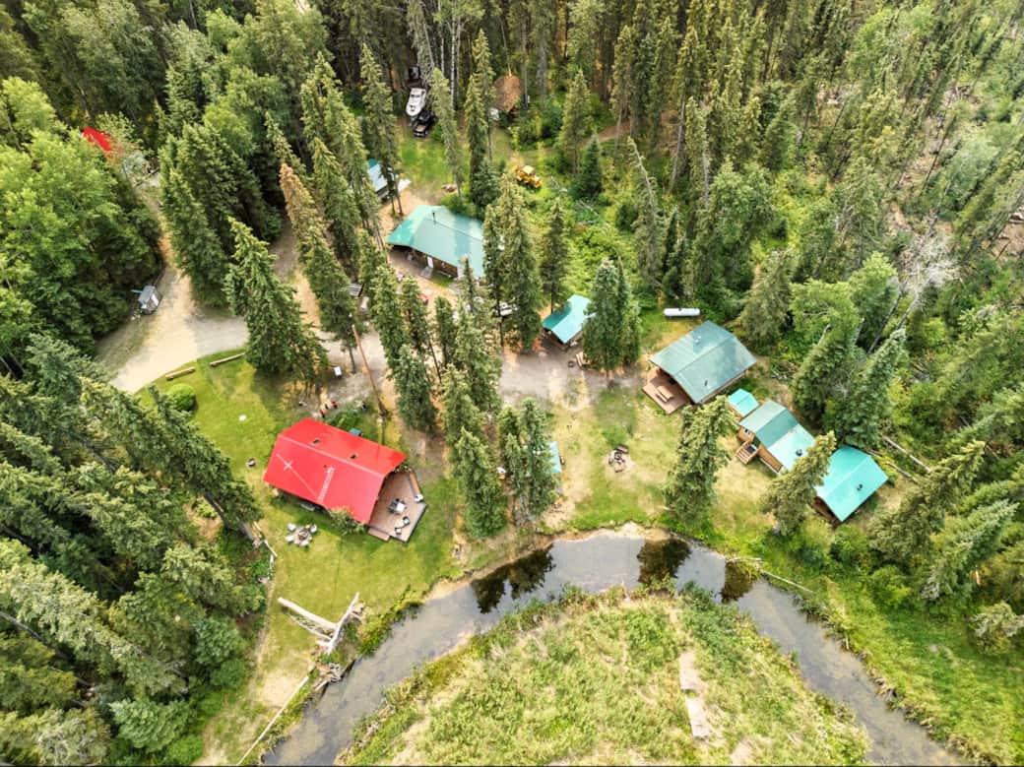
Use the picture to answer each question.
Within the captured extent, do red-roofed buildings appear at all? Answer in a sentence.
Yes, the frame does contain a red-roofed building.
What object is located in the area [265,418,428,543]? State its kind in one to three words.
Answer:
building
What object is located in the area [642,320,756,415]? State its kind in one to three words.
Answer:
building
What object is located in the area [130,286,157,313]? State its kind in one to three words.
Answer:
shed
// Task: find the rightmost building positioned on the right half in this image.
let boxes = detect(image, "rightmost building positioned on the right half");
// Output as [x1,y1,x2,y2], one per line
[812,447,888,532]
